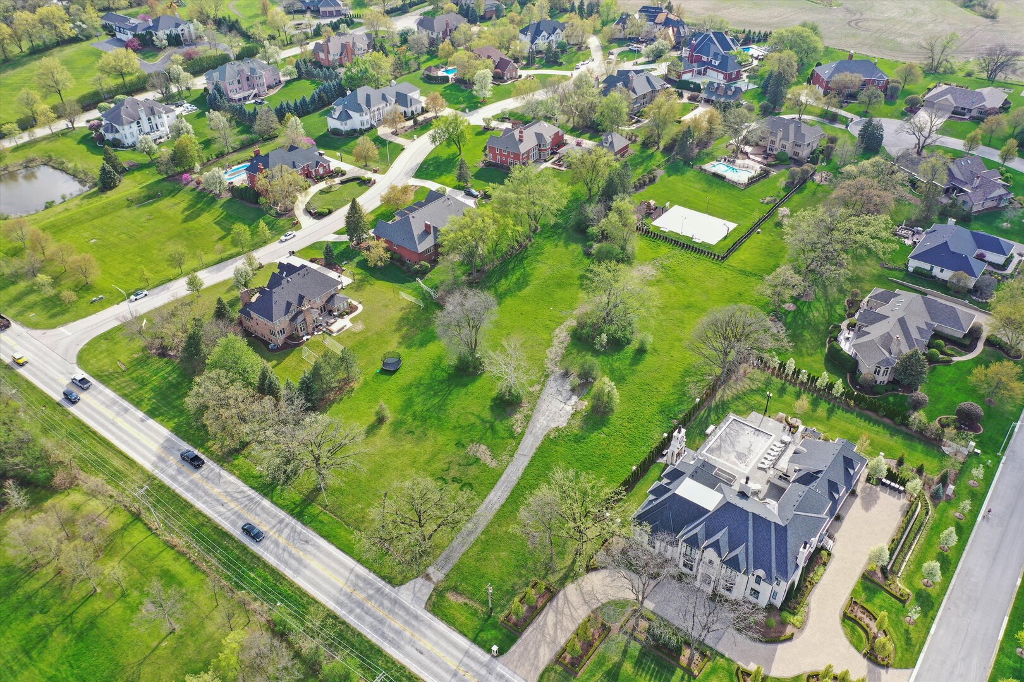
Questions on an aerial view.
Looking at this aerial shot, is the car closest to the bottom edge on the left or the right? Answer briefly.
left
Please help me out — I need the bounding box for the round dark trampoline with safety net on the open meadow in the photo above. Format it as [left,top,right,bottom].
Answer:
[381,355,402,374]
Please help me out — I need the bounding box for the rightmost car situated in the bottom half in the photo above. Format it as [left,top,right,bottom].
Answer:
[242,521,269,543]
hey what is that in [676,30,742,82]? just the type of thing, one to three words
house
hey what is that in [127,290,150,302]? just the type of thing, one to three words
vehicle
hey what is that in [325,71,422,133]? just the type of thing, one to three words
house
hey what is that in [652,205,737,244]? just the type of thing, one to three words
sports court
